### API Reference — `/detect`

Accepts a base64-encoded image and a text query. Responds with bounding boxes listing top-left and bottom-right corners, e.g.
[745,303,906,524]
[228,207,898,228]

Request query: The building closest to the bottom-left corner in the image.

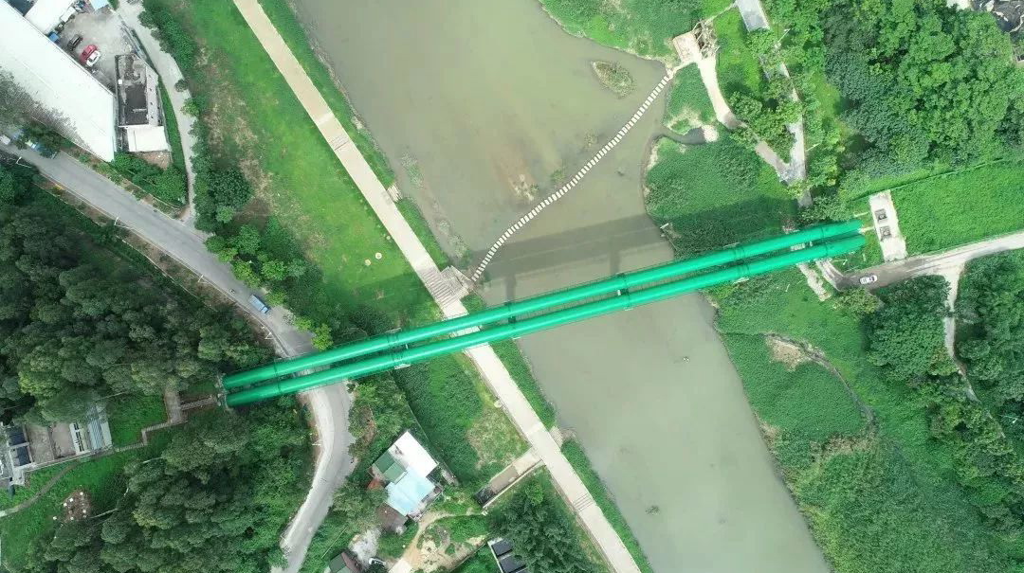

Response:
[87,404,116,450]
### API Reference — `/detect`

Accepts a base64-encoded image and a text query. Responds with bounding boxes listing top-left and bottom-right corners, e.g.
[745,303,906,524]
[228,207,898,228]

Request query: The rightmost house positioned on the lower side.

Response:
[486,534,531,573]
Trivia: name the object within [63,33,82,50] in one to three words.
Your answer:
vehicle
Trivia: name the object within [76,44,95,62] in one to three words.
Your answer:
car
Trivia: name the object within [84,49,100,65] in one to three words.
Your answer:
car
